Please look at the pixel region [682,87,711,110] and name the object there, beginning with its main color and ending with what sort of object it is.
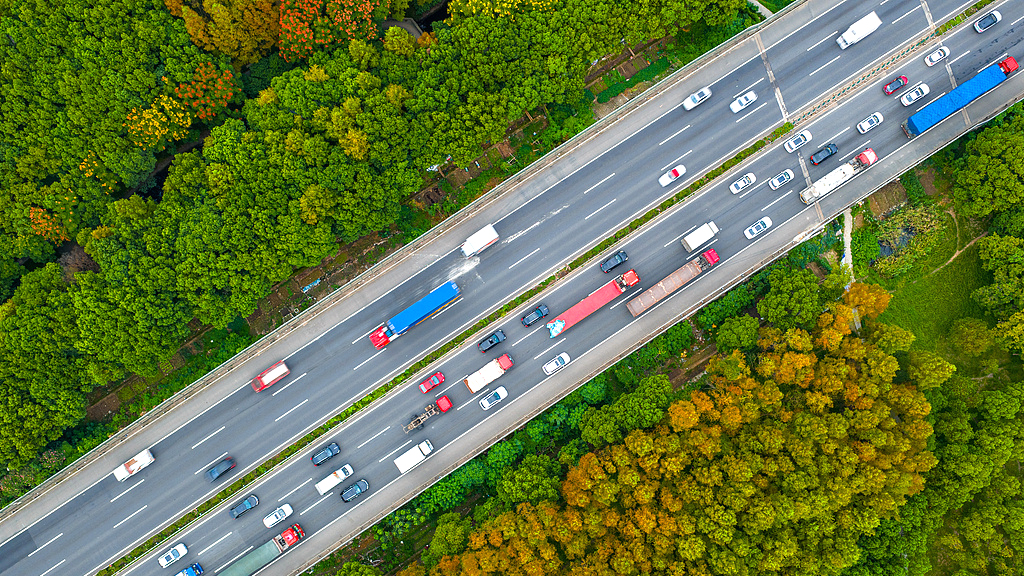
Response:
white car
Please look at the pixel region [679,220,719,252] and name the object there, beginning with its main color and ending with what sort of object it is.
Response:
white truck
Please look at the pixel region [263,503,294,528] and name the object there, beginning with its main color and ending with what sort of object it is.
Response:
white car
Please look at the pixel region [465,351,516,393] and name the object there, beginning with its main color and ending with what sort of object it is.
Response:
white truck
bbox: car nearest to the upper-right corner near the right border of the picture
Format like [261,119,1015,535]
[972,11,1001,35]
